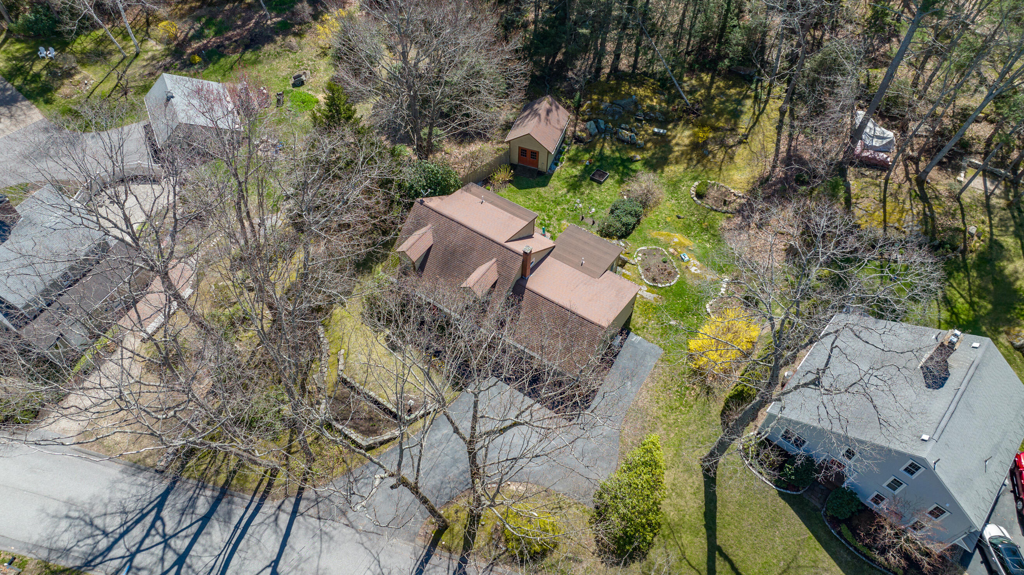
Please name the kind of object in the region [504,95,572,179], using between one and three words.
shed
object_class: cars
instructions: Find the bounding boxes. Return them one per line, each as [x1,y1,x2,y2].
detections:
[980,524,1024,575]
[1011,455,1024,512]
